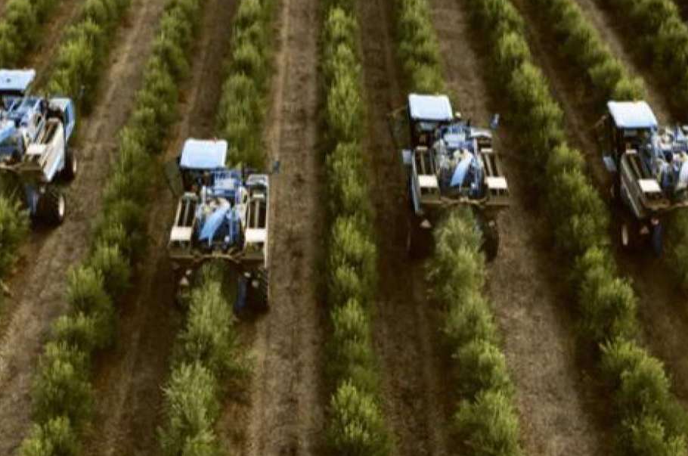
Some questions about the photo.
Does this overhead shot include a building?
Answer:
No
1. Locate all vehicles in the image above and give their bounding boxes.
[161,135,281,315]
[387,97,504,261]
[591,96,688,259]
[0,69,82,220]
